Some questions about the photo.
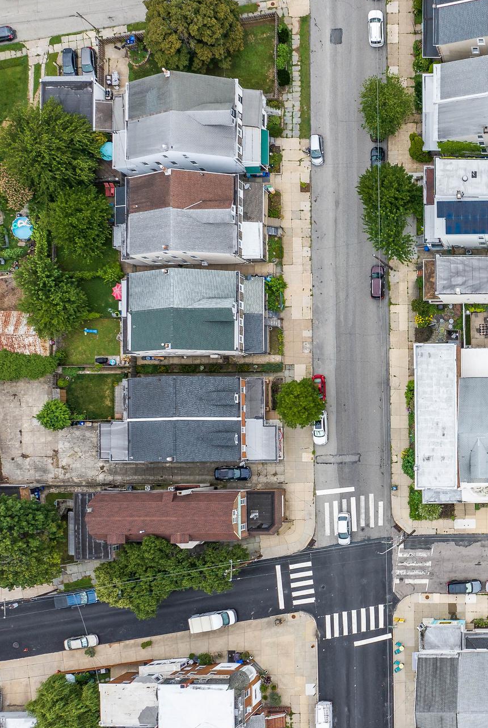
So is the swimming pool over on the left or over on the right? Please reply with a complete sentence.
The swimming pool is on the left side of the image.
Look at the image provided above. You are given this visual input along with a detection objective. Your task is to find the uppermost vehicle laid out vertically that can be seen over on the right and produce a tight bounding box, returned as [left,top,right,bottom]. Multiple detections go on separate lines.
[367,9,385,47]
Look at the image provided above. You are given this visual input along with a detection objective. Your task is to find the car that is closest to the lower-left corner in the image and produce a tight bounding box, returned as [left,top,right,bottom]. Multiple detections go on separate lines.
[64,633,100,651]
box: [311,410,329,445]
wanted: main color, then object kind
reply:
white car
